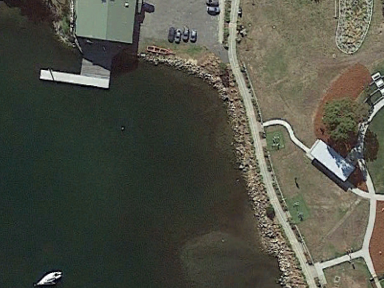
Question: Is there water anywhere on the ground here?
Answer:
Yes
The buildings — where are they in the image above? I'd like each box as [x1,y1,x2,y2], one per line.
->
[309,140,355,182]
[76,0,136,42]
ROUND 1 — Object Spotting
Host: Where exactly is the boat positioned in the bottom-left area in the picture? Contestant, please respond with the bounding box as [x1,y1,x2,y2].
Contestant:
[36,270,61,285]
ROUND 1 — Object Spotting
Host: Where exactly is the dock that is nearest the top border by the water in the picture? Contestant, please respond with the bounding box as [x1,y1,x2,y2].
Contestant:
[81,49,112,79]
